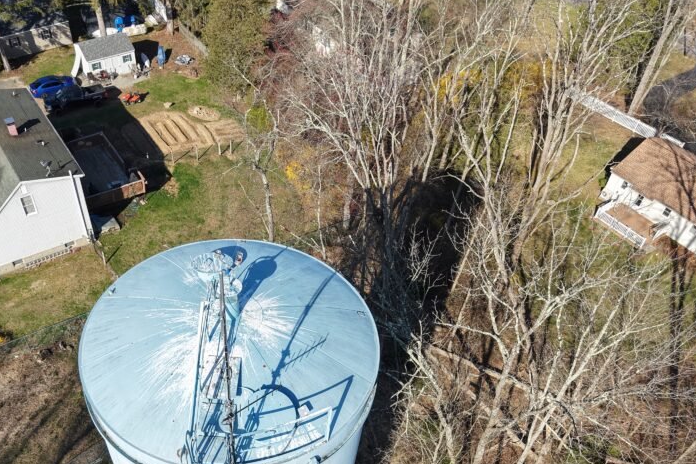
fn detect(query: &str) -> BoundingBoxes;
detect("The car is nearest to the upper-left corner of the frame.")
[28,74,77,99]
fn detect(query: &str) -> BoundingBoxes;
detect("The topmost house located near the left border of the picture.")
[0,0,74,56]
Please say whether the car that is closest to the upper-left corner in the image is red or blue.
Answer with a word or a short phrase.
blue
